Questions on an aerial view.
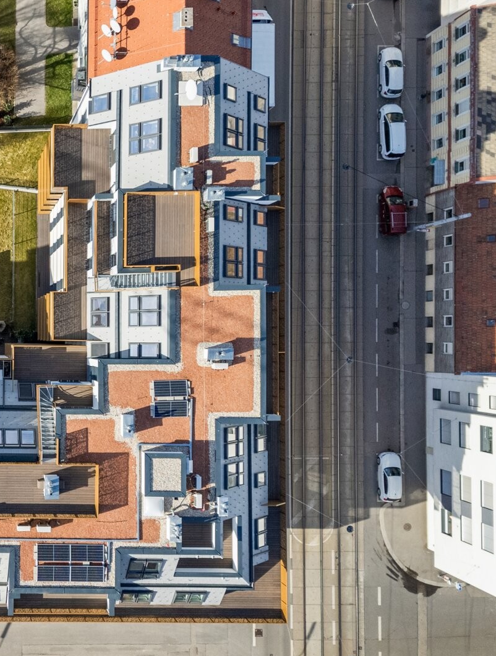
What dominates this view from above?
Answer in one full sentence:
The largest share of the image is taken up by buildings.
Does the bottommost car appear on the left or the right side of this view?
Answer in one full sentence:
You can find the bottommost car on the right side of the picture.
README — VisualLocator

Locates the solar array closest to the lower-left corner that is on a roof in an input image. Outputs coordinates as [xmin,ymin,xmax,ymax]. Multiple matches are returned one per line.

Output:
[31,542,110,581]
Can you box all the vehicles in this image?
[253,0,275,115]
[372,107,404,162]
[371,451,402,502]
[372,187,404,235]
[372,49,403,101]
